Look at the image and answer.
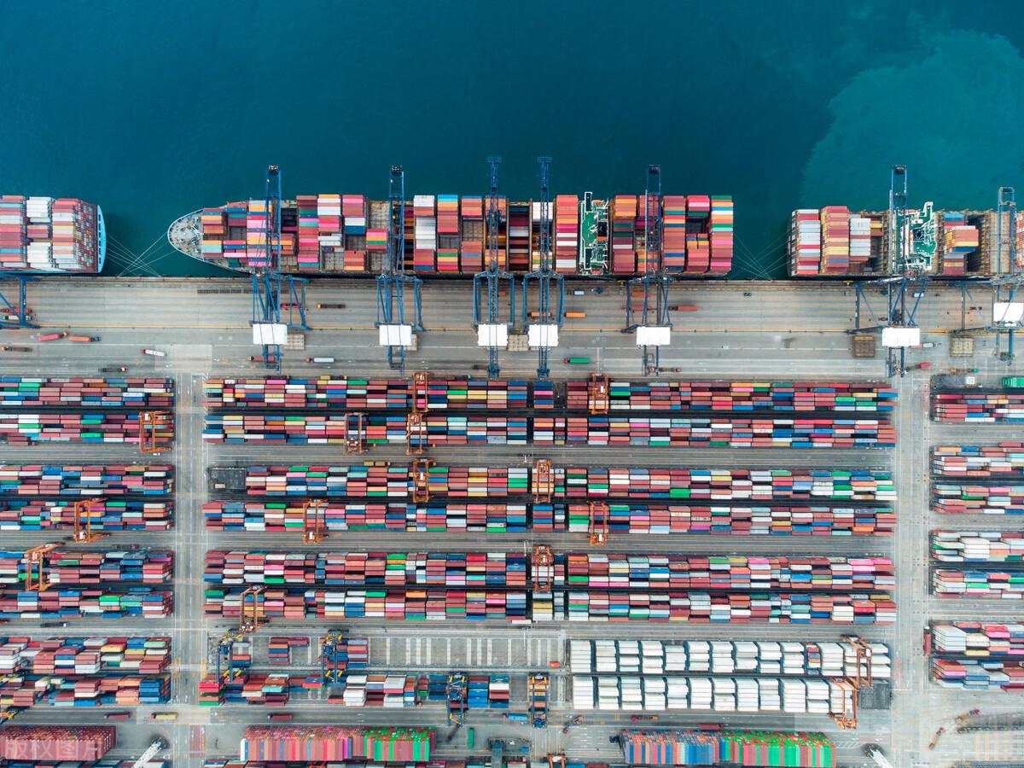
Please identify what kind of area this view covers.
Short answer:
port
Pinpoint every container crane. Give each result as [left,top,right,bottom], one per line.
[523,155,562,377]
[585,495,607,546]
[240,582,270,633]
[73,494,111,544]
[376,167,425,372]
[531,454,552,503]
[839,631,873,688]
[322,628,349,685]
[302,493,330,544]
[406,408,429,456]
[624,169,673,374]
[25,537,65,590]
[137,407,173,454]
[585,370,608,416]
[475,154,515,377]
[0,277,40,327]
[412,453,435,503]
[826,671,859,730]
[956,182,1024,370]
[848,170,925,375]
[251,166,312,371]
[345,408,371,456]
[216,630,248,687]
[0,666,35,724]
[532,539,552,592]
[411,369,434,415]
